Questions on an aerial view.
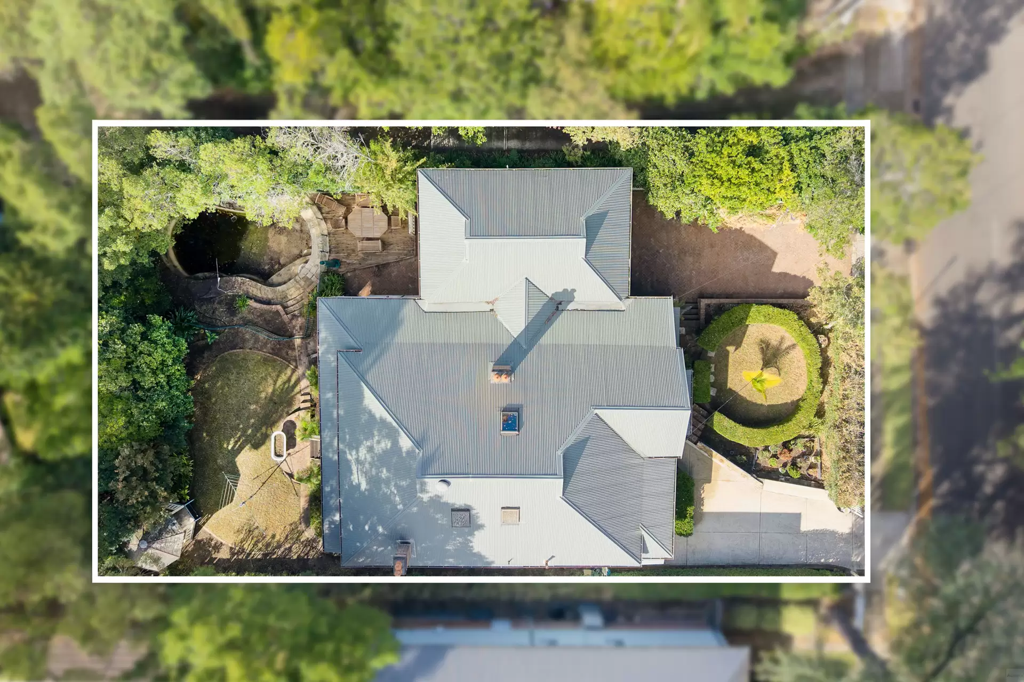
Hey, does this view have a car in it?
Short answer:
No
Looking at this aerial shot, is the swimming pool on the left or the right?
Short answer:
left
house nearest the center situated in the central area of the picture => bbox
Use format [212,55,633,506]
[311,134,696,579]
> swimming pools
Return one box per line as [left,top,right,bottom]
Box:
[166,202,322,289]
